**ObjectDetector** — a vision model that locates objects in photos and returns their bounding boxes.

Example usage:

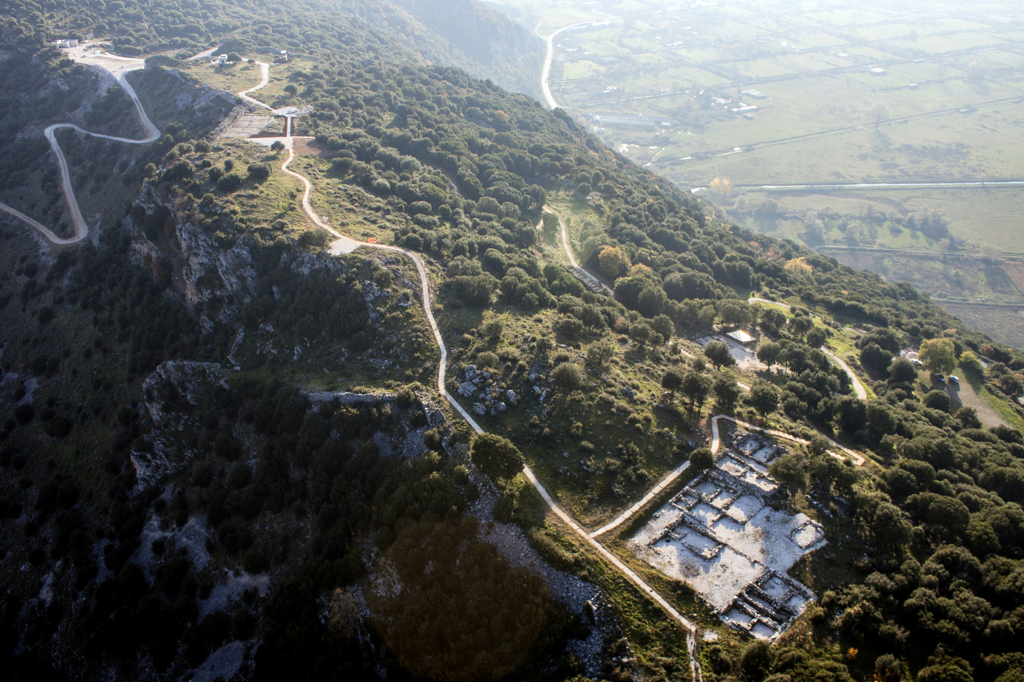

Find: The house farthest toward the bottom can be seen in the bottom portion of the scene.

[718,567,812,643]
